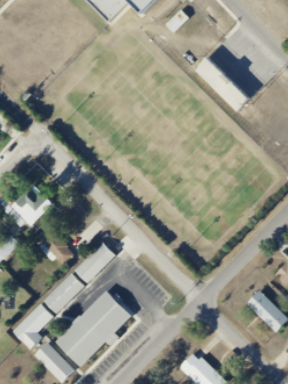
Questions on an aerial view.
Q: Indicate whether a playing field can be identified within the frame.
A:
Yes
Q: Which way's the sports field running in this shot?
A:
on a diagonal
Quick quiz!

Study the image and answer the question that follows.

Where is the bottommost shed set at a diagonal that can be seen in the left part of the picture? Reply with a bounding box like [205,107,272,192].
[34,342,74,384]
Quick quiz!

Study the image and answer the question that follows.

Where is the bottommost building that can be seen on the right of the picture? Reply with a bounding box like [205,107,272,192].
[180,355,224,384]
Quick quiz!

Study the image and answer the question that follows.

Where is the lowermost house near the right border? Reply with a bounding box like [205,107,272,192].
[248,293,286,332]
